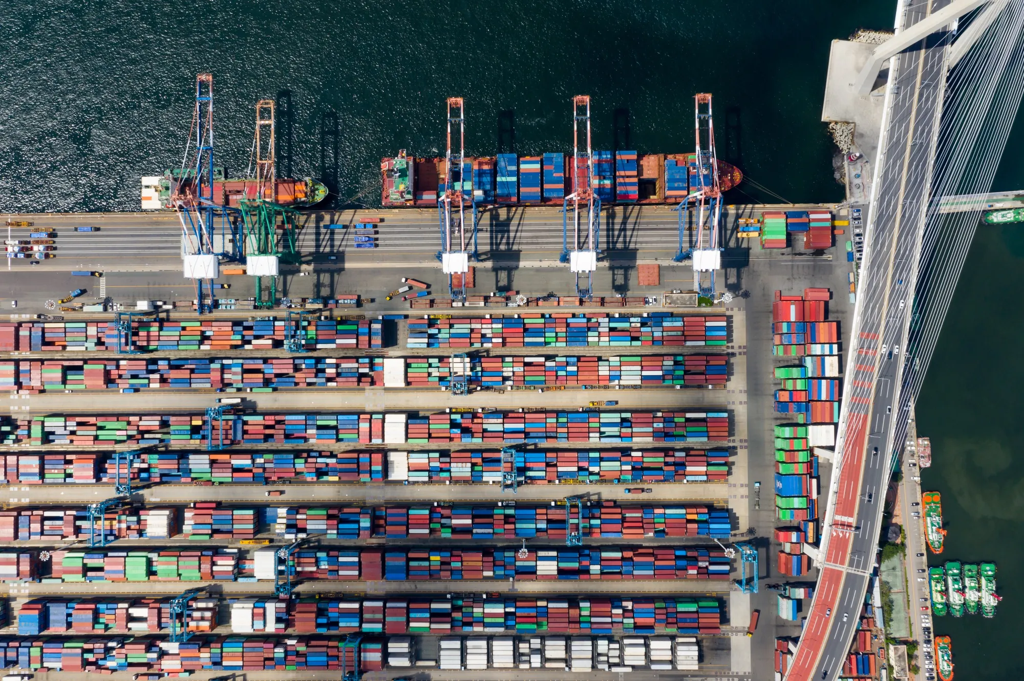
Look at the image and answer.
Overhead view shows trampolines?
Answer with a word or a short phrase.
No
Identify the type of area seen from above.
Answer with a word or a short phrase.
port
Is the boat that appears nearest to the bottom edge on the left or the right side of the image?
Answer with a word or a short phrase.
right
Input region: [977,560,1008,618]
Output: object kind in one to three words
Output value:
boat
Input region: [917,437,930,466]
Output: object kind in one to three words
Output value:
ship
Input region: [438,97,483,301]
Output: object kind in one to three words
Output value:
container crane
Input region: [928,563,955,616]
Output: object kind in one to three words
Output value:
boat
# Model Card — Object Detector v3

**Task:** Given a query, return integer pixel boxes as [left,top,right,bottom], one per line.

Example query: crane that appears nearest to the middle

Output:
[449,352,476,397]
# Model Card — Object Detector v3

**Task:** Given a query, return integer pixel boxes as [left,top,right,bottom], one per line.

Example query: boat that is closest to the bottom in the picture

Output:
[934,634,964,681]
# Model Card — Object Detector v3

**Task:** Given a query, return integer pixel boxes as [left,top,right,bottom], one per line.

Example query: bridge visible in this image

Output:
[782,0,1024,681]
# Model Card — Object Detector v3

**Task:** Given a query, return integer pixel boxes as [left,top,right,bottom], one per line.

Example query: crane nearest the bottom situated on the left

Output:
[340,628,363,681]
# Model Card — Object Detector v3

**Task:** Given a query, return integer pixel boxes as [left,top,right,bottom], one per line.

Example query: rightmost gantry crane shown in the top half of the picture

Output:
[668,92,726,299]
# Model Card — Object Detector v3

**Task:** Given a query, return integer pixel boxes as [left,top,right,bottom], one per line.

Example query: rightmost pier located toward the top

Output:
[930,190,1024,213]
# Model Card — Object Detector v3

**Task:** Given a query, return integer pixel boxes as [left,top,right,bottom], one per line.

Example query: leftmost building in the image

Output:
[663,294,697,307]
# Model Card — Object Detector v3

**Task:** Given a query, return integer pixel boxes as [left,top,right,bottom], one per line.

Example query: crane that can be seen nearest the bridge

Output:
[725,535,759,594]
